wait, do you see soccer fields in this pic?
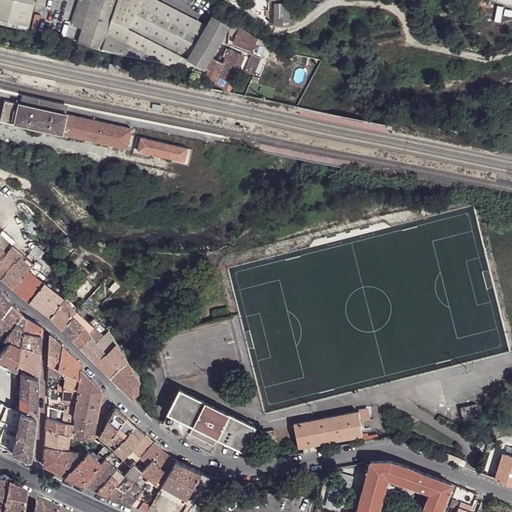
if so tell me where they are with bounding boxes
[230,206,508,412]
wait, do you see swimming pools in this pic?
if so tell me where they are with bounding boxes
[290,62,310,88]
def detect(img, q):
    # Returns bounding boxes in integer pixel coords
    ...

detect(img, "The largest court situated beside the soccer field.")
[164,321,244,379]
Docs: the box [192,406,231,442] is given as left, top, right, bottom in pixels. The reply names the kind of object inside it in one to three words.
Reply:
building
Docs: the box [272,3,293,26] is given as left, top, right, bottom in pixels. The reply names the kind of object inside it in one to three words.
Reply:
shed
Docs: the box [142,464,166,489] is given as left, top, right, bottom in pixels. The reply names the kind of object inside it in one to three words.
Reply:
house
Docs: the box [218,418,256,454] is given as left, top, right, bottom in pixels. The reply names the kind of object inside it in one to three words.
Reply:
building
